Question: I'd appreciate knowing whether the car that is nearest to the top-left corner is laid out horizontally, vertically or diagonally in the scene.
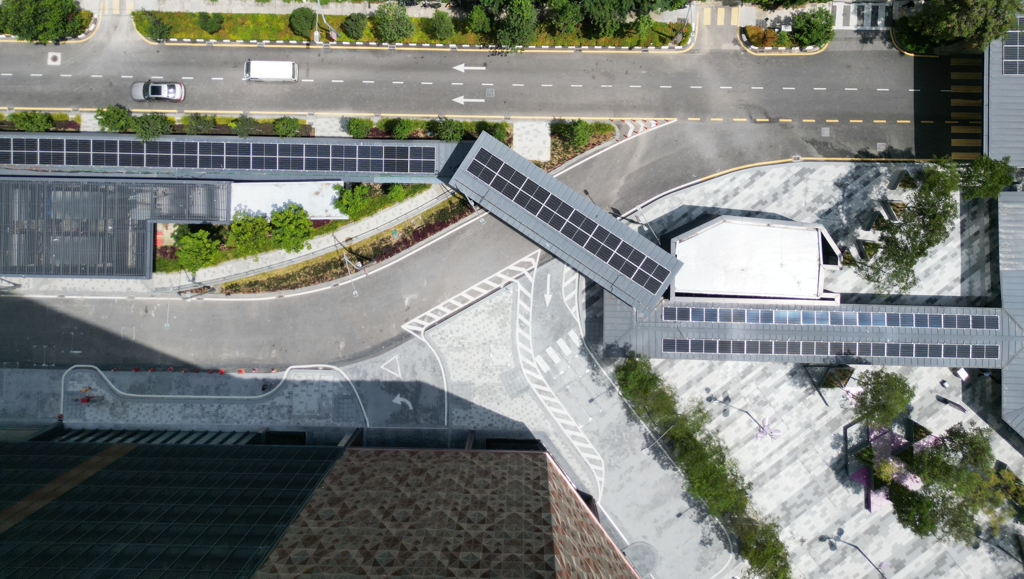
horizontally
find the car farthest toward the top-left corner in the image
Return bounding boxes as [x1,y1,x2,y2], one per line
[128,78,185,103]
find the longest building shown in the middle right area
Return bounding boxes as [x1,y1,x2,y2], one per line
[660,213,843,307]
